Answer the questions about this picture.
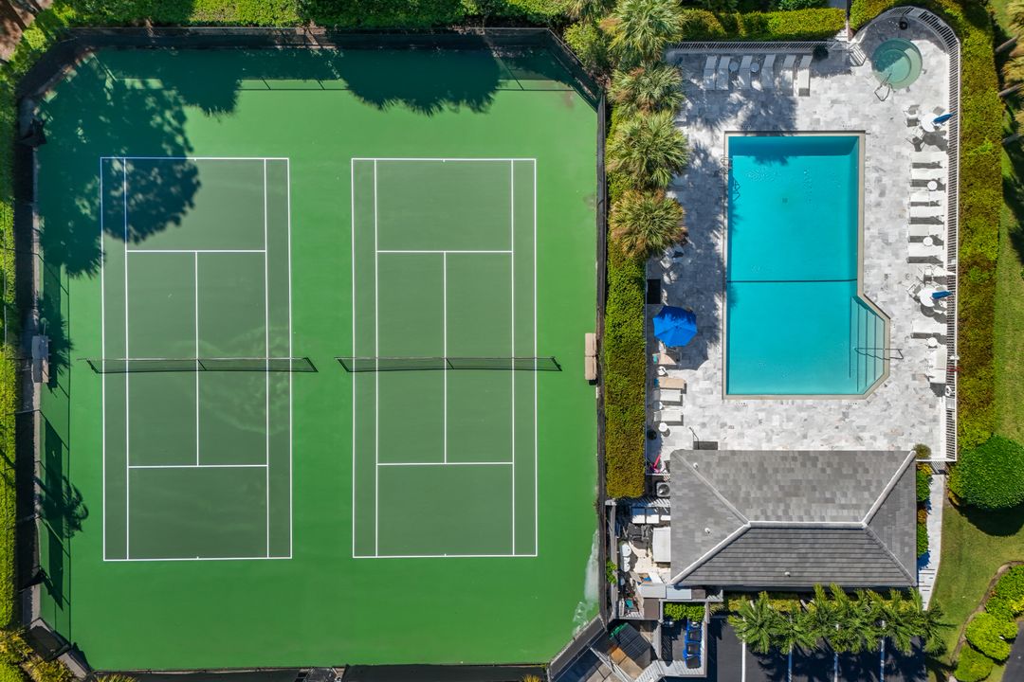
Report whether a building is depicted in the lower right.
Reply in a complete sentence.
Yes, a building appears in the lower right.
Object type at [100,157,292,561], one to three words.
tennis court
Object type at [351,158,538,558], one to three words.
tennis court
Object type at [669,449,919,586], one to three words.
building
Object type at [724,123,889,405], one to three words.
swimming pool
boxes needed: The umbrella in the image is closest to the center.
[652,304,696,348]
